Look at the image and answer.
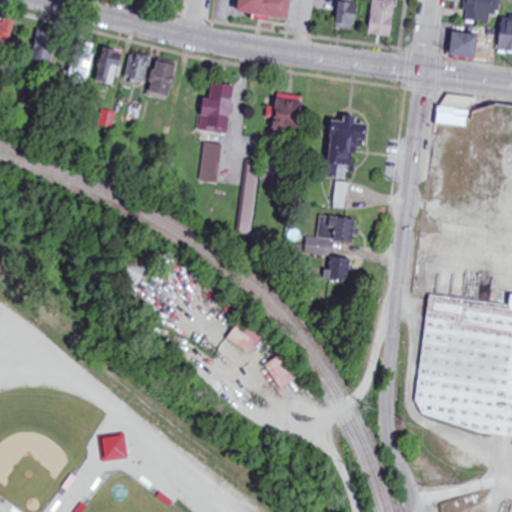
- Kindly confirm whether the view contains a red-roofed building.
Yes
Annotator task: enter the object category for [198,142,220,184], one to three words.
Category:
building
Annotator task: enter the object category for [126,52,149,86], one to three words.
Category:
house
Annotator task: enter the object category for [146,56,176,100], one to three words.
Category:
house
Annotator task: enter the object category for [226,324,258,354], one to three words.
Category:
building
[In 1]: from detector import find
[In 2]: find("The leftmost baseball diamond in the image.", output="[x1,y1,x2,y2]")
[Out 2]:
[0,387,104,512]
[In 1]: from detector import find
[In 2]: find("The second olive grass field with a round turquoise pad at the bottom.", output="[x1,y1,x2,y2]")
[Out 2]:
[84,471,174,512]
